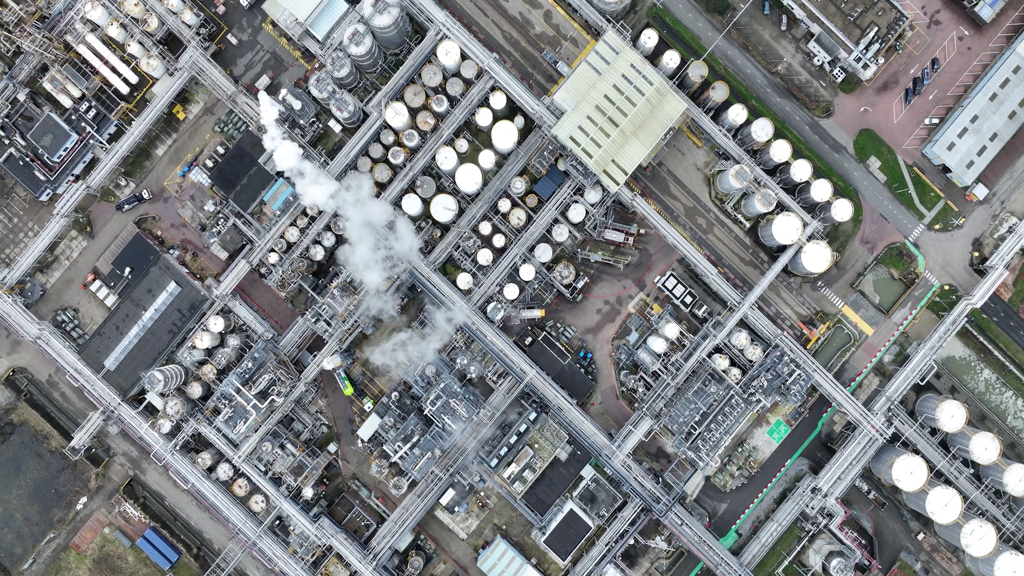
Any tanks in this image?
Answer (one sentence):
Yes, there's a tank down there.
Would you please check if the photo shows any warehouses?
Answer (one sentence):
Yes, there's a warehouse down there.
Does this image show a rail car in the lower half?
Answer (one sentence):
No, there is no rail car in the lower half.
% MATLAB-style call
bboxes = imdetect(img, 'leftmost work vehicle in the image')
[77,272,99,293]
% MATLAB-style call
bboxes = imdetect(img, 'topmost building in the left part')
[260,0,351,62]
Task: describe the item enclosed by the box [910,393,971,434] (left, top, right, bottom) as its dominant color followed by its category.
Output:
white storage tank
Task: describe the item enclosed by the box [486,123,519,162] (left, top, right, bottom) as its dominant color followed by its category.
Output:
white storage tank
